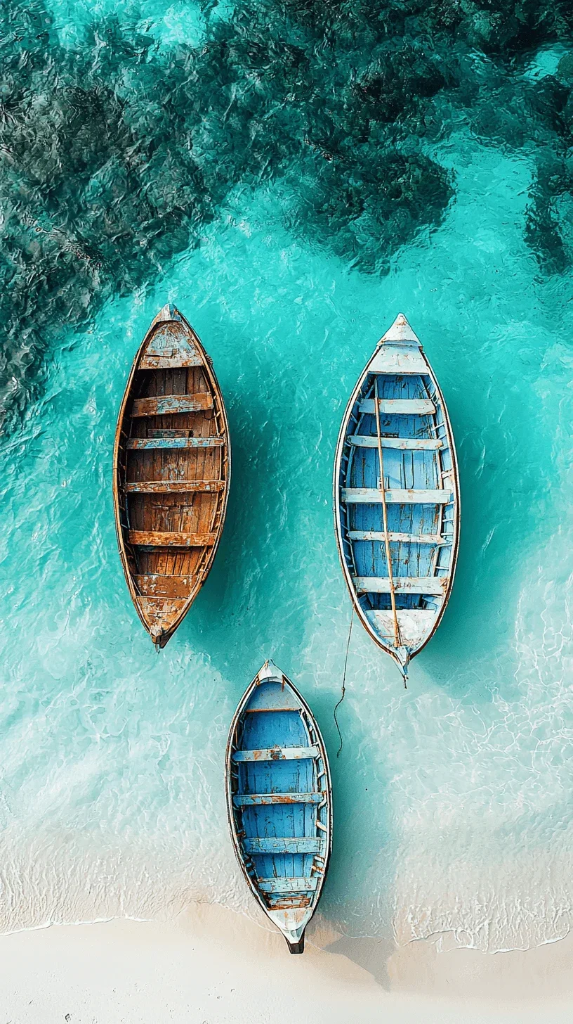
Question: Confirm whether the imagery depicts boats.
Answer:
Yes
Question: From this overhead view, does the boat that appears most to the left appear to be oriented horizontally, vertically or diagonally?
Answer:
vertically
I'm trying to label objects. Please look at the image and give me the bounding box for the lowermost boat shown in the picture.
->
[225,659,332,953]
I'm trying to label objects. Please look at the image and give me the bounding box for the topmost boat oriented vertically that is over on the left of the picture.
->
[113,302,230,651]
